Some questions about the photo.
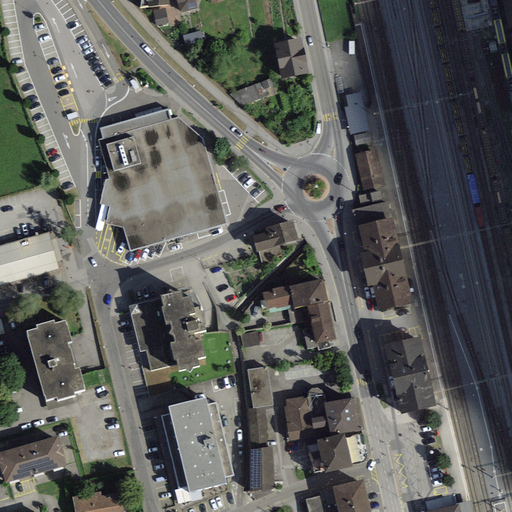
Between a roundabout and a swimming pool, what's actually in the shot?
roundabout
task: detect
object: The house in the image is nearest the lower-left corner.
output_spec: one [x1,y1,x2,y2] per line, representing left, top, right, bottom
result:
[0,437,66,484]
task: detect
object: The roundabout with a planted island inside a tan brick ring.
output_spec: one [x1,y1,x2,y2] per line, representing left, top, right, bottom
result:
[282,154,350,220]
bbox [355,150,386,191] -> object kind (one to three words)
shed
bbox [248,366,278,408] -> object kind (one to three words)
barn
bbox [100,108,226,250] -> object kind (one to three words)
building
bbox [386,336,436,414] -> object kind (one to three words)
house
